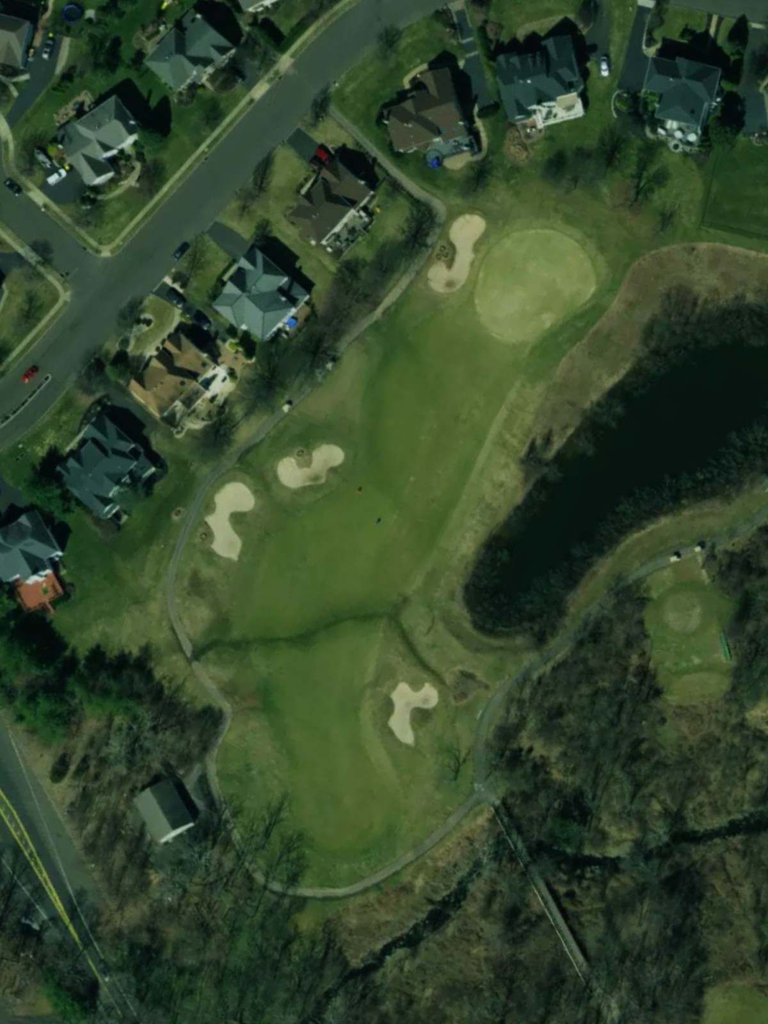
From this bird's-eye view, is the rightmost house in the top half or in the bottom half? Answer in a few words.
top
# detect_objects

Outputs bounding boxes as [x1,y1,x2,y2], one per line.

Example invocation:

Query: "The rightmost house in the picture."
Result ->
[645,51,720,145]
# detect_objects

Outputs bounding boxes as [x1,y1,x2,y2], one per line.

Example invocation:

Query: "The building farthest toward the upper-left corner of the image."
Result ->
[0,16,32,74]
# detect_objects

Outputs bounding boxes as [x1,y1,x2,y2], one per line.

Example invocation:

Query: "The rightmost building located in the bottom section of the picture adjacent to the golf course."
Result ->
[135,778,194,841]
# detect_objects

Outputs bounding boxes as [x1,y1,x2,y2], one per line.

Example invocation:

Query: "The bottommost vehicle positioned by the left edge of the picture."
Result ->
[22,366,38,382]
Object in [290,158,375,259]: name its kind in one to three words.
house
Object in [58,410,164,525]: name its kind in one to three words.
house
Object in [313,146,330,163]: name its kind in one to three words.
car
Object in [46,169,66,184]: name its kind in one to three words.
car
